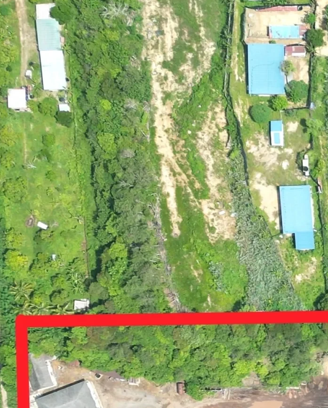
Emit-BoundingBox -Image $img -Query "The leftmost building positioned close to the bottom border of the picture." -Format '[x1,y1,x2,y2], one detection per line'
[27,355,61,392]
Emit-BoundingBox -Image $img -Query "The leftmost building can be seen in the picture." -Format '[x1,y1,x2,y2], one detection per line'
[7,88,33,111]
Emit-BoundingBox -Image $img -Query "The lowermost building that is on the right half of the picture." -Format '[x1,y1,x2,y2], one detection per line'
[280,185,317,252]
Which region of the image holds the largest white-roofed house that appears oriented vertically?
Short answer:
top left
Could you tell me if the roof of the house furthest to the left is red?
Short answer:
No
